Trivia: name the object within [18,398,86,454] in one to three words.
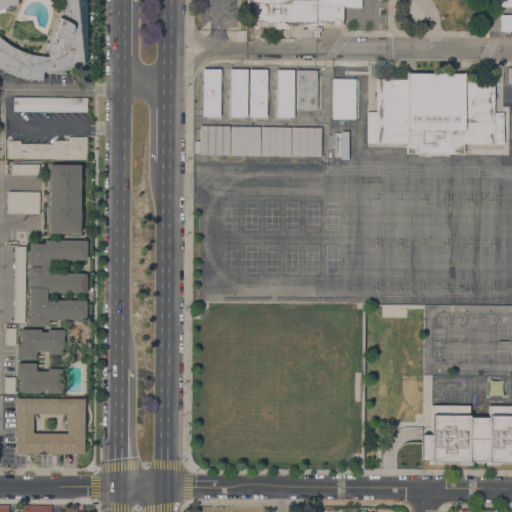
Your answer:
building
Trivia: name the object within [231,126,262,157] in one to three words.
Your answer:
building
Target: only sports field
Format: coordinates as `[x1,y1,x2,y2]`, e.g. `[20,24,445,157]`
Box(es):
[192,304,362,468]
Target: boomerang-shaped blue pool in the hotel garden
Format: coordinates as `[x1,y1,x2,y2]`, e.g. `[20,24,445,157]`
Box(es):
[18,0,54,34]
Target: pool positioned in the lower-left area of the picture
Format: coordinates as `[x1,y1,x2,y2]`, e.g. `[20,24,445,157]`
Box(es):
[67,362,88,396]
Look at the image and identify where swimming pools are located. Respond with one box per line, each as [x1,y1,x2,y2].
[18,0,54,34]
[67,362,88,396]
